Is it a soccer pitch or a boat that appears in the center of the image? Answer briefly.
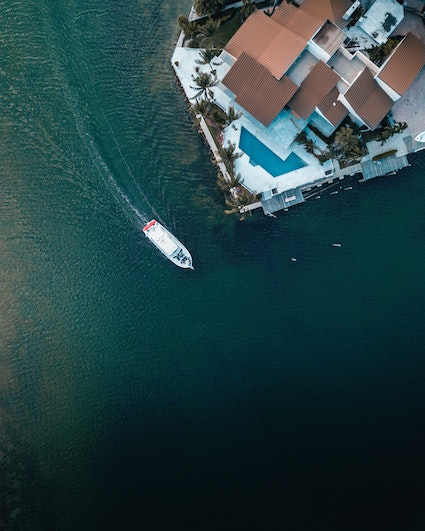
boat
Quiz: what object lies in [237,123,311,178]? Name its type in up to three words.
swimming pool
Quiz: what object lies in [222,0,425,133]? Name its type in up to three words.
house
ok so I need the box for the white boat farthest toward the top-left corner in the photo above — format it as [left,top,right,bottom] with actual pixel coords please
[142,218,195,271]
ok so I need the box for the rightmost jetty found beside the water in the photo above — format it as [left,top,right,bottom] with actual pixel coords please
[360,151,410,181]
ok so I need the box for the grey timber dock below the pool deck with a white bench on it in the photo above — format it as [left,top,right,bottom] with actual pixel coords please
[262,188,306,215]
